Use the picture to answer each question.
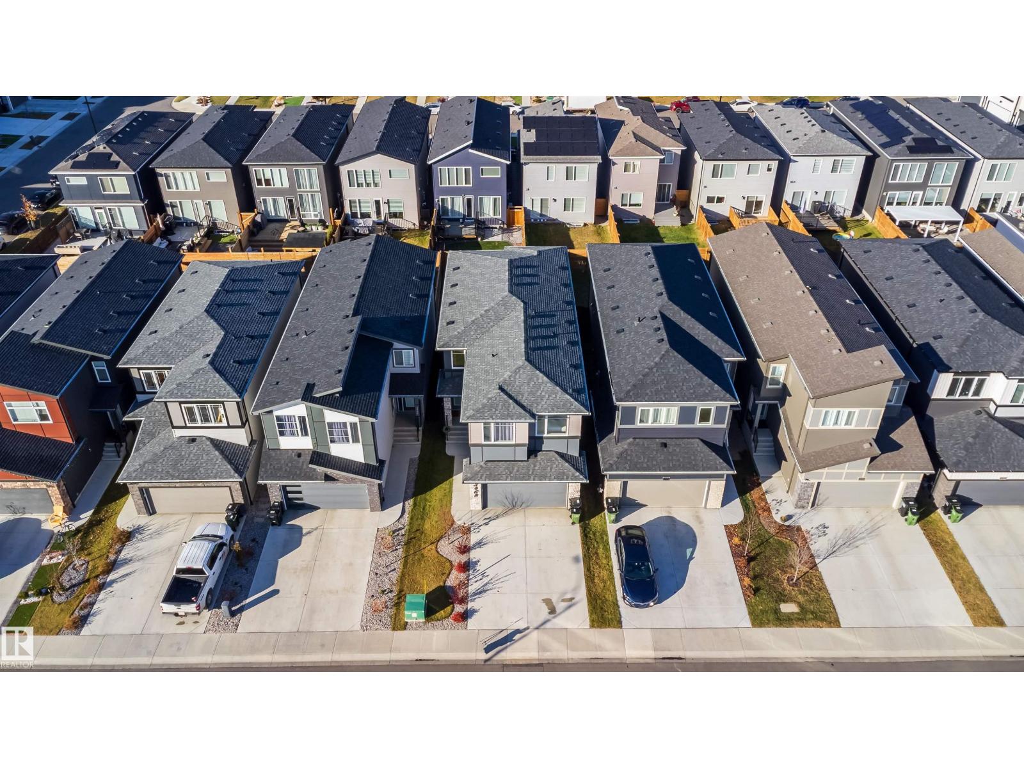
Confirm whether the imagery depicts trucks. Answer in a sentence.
Yes, I can see a truck in this picture.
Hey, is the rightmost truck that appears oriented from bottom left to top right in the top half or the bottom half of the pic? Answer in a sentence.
It is in the bottom half that the rightmost truck that appears oriented from bottom left to top right appears.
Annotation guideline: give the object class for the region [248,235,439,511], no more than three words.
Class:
house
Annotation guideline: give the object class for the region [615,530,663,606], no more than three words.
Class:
car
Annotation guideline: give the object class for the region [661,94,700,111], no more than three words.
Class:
car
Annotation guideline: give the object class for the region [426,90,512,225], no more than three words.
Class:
house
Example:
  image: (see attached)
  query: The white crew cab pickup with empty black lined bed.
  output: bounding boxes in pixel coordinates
[157,526,237,618]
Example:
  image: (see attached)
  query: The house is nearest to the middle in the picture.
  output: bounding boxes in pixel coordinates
[435,247,591,509]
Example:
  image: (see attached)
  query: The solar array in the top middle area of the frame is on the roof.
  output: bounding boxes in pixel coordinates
[523,117,603,154]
